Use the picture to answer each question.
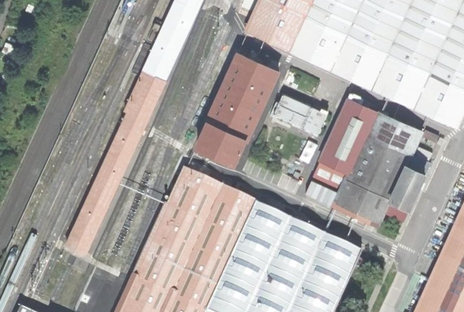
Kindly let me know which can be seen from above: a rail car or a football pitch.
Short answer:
rail car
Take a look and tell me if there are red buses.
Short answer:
No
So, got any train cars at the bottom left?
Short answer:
Yes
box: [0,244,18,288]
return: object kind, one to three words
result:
rail car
